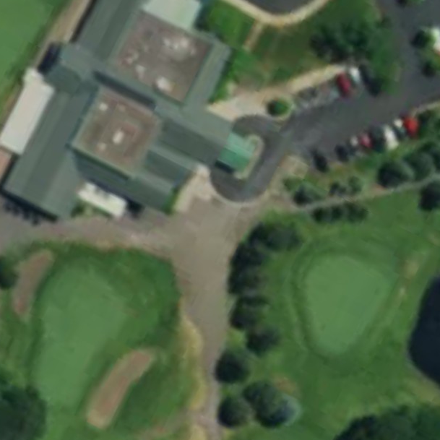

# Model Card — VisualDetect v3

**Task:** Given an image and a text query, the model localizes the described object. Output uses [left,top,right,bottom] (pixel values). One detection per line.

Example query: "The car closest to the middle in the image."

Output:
[313,150,327,170]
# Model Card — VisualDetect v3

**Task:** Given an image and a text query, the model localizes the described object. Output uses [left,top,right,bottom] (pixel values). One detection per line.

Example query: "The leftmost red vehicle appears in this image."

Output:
[336,72,351,94]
